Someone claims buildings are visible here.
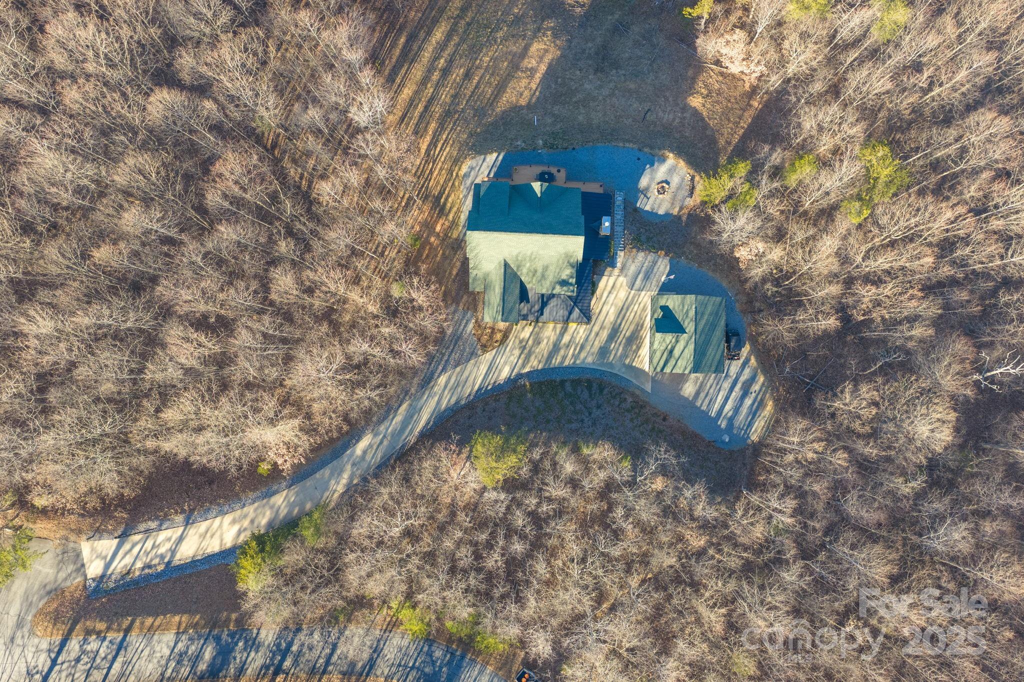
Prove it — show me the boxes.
[466,182,613,324]
[648,294,727,374]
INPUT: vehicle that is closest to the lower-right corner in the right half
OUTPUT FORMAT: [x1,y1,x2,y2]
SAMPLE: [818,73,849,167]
[727,332,745,361]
